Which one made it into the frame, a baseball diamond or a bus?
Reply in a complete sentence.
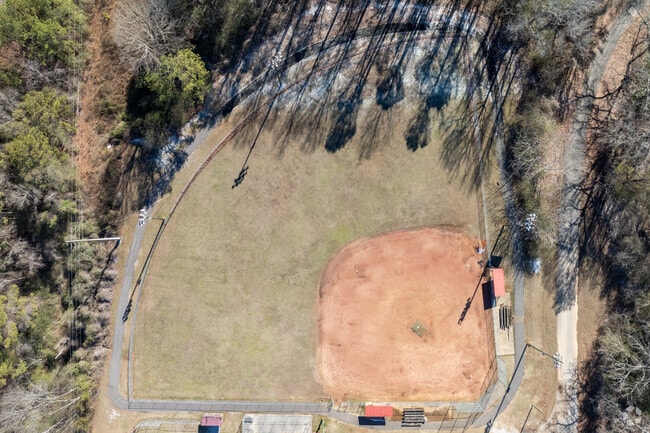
Looking from above, you can make out a baseball diamond.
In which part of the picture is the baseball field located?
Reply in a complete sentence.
The baseball field appears toward the center of the photo.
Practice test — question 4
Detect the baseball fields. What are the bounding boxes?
[131,35,498,402]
